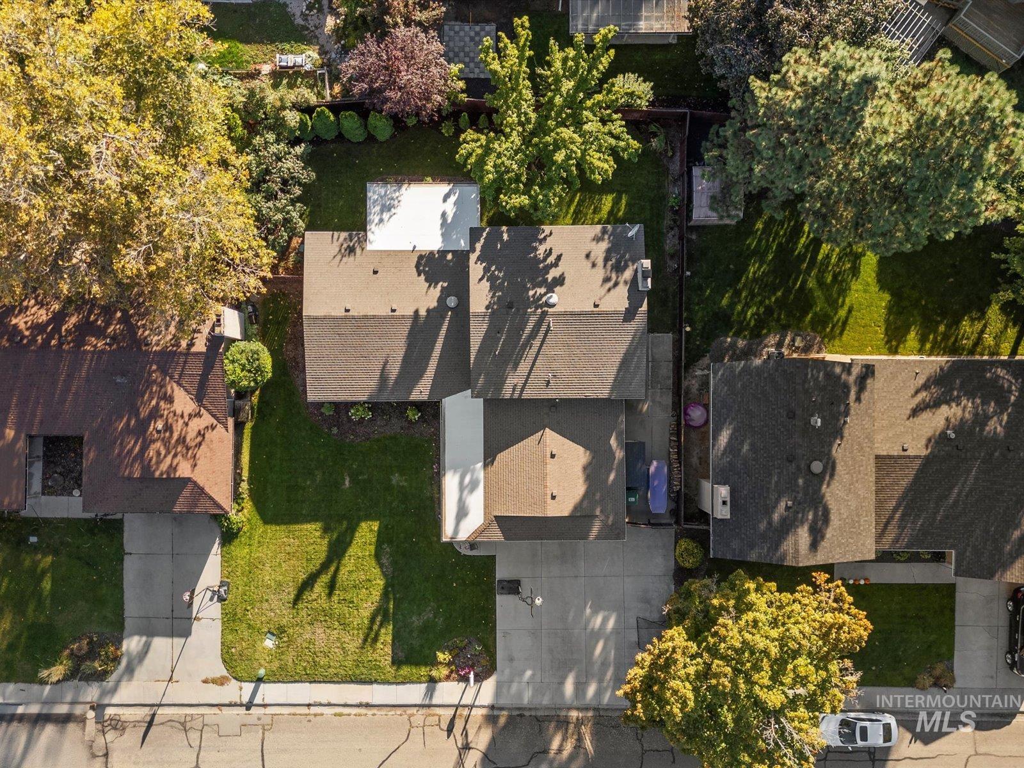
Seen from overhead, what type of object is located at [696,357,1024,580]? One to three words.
house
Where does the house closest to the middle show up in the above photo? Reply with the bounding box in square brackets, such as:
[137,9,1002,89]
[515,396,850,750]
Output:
[300,182,652,544]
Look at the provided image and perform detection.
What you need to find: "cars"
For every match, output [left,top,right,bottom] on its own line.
[1007,586,1024,680]
[806,707,897,754]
